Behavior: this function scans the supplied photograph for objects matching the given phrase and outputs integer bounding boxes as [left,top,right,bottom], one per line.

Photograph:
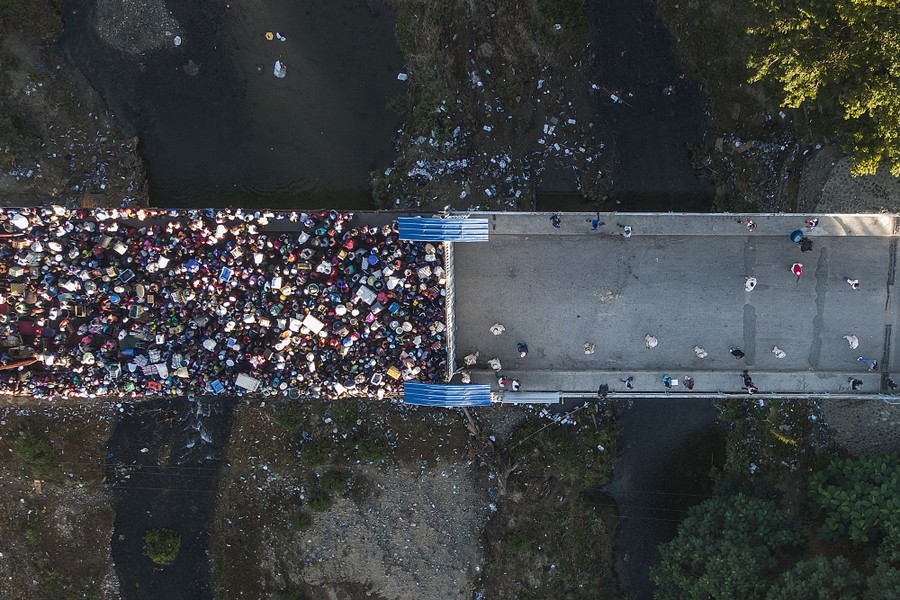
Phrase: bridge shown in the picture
[0,210,900,404]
